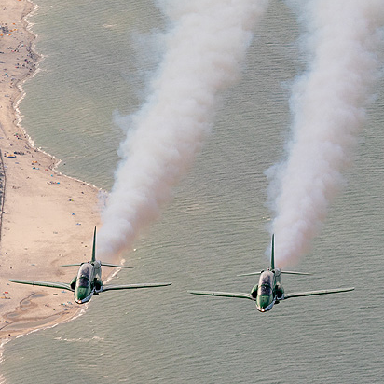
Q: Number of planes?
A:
2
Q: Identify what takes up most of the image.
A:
water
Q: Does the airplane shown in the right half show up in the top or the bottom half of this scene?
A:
bottom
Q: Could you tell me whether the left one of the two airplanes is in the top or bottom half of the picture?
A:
bottom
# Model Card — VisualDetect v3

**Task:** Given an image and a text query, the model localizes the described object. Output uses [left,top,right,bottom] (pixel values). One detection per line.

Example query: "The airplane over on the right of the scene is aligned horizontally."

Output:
[188,232,353,311]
